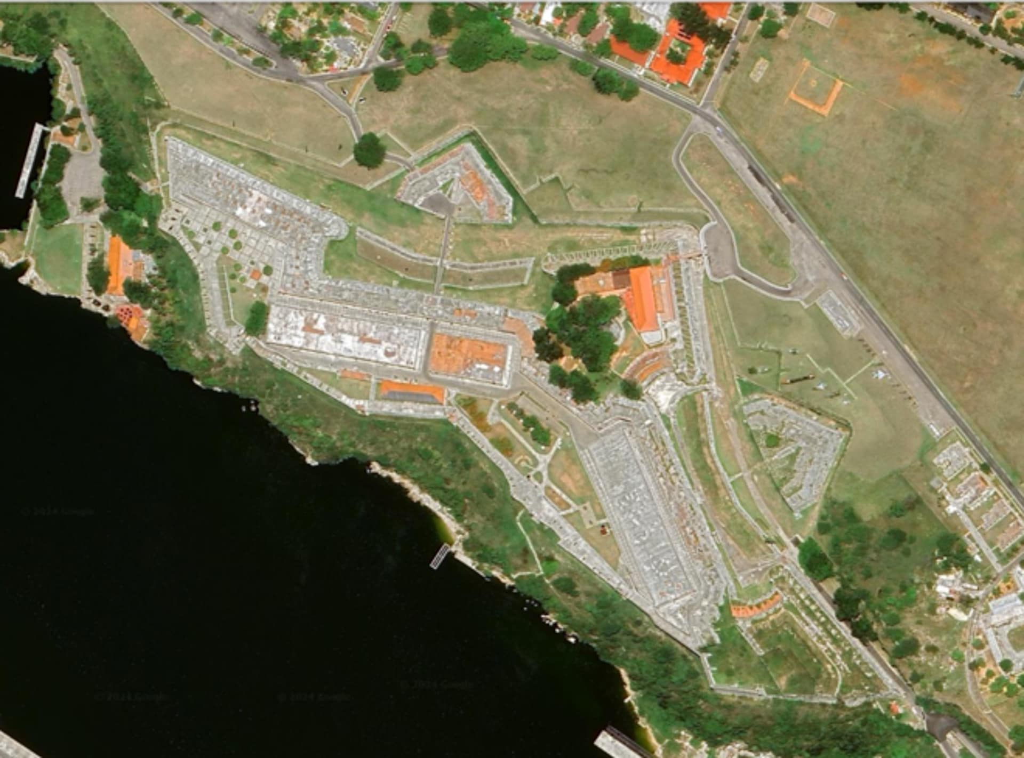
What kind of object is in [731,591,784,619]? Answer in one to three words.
building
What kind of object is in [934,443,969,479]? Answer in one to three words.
house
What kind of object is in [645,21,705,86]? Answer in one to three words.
building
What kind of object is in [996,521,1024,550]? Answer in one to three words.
house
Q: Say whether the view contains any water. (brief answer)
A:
Yes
